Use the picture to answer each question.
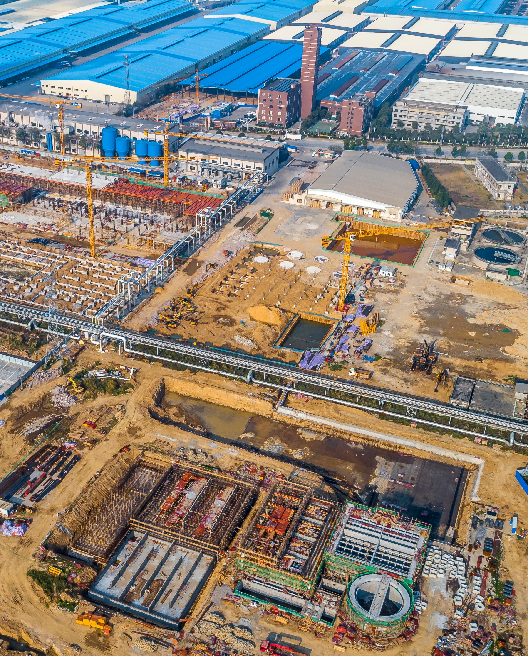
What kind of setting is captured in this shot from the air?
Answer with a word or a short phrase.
industrial area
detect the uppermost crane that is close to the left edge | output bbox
[0,93,81,168]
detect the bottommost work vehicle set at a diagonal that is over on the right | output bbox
[433,370,447,391]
